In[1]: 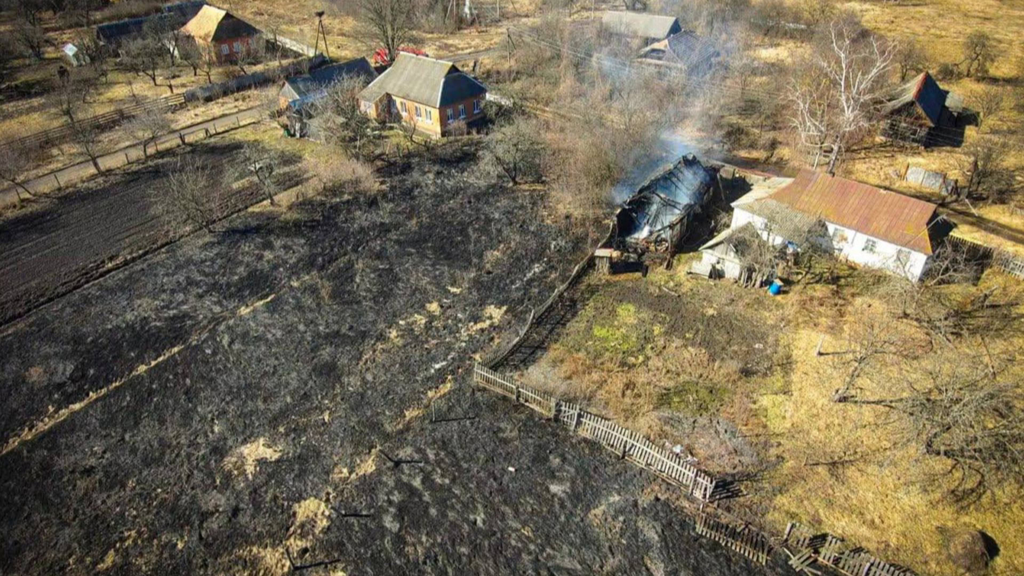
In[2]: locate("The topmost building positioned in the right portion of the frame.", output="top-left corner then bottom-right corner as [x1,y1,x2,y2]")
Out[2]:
[594,10,684,46]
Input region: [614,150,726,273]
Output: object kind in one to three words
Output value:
barn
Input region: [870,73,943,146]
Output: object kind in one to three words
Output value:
shed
